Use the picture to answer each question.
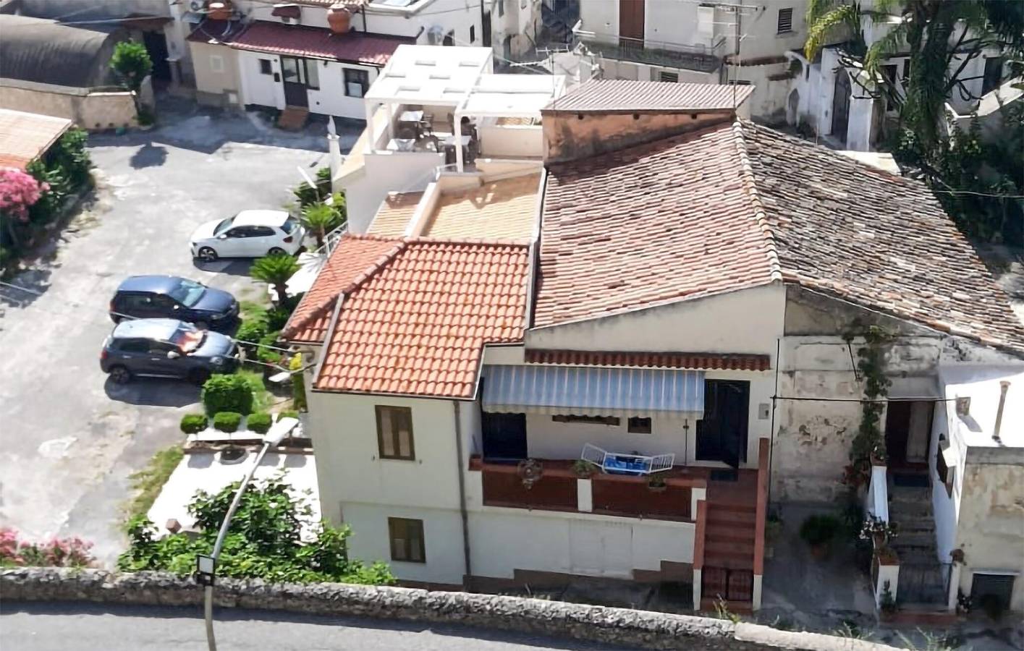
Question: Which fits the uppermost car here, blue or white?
white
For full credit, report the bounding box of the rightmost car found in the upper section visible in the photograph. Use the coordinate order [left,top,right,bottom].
[187,205,303,263]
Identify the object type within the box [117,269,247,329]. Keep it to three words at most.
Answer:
car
